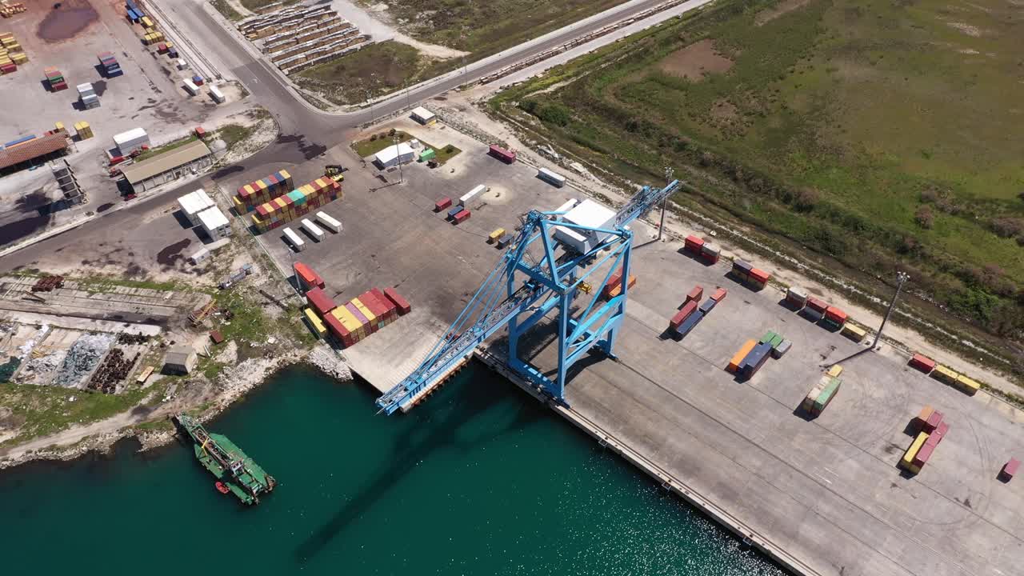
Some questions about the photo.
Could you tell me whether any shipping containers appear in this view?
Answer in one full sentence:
Yes, looking at the shot, I can spot a shipping container.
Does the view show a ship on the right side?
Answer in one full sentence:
No, I can find no ship on the right side.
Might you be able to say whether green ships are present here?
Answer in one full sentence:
Yes, the frame does contain a green ship.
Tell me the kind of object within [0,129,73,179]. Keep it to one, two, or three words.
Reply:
shed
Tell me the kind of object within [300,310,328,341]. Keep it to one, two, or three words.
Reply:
shipping container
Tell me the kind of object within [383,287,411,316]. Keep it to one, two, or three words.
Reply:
shipping container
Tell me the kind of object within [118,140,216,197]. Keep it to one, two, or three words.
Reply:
building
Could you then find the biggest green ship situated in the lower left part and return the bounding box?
[172,409,276,506]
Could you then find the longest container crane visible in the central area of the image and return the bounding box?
[360,180,685,418]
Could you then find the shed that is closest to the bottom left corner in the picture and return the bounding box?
[160,343,190,372]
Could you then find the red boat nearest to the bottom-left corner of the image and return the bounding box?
[214,481,230,494]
